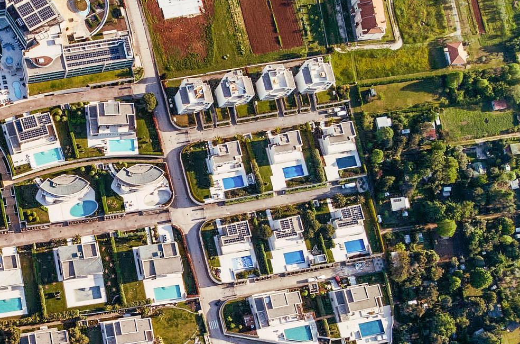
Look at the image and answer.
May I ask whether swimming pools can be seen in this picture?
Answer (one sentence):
Yes, there's a swimming pool here.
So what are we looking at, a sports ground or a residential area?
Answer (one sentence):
The area seen from above is a residential area.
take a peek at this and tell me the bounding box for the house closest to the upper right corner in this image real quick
[442,42,467,68]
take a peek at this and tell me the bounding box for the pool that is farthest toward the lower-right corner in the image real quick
[357,319,385,339]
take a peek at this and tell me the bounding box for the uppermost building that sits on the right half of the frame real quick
[348,0,386,43]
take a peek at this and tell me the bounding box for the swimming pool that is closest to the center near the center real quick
[228,170,252,189]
